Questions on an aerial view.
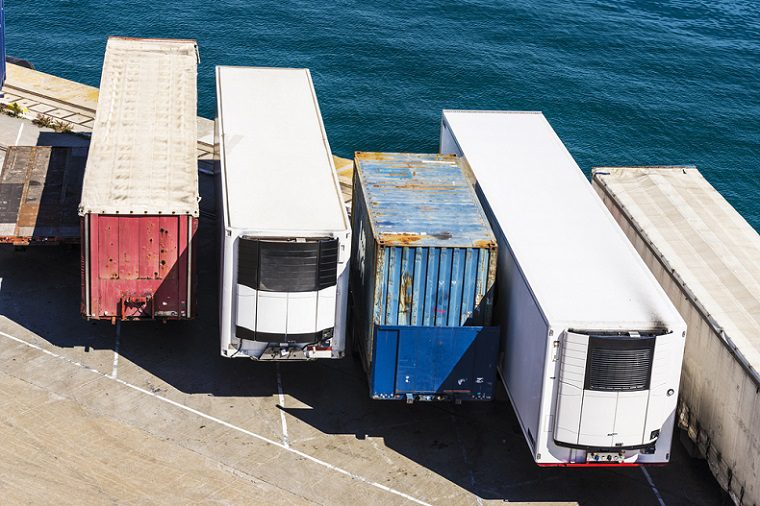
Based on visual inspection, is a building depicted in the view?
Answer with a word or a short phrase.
No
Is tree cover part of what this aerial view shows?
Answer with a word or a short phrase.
No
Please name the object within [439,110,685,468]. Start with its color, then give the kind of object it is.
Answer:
white trailer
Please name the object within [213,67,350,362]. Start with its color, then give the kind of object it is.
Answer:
white trailer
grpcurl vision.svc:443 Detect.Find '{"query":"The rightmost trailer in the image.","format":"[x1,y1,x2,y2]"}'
[589,166,760,506]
